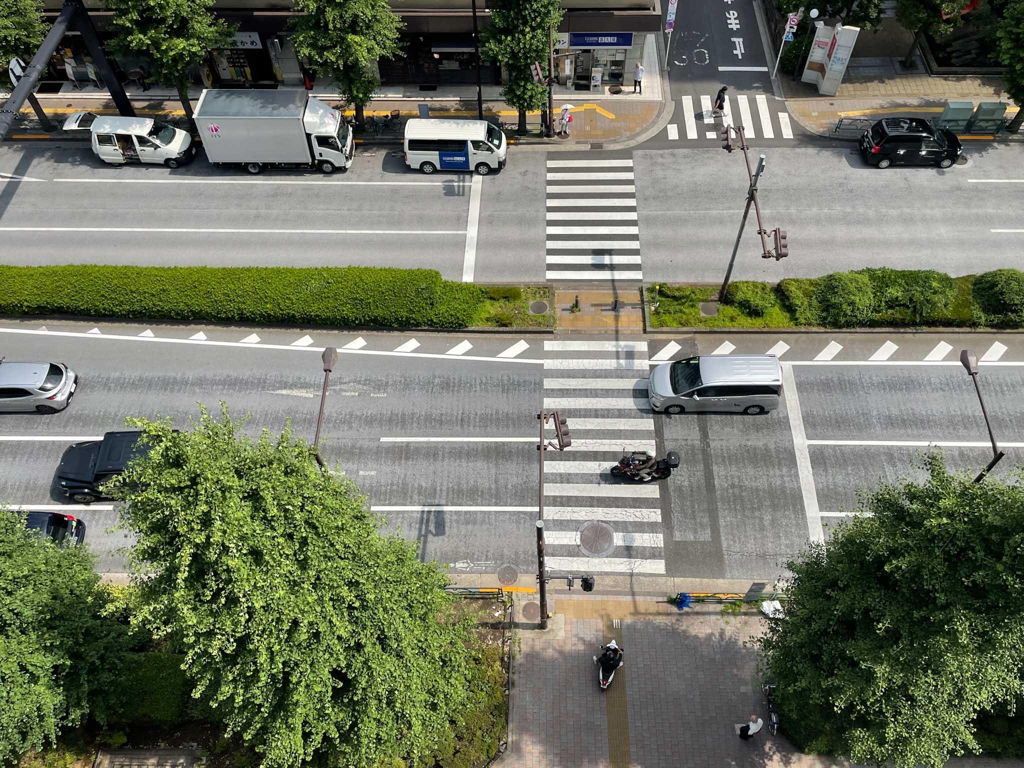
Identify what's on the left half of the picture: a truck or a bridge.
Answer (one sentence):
There is a truck on the left half of the picture.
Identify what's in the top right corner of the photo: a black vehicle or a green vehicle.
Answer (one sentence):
The one visible in the top right corner of the photo is a black vehicle.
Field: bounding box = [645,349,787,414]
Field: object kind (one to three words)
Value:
car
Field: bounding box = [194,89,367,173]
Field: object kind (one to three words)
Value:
truck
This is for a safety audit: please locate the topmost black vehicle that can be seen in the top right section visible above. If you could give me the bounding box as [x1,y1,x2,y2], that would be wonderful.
[863,116,969,168]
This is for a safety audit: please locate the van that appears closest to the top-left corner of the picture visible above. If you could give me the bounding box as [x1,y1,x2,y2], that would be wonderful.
[64,109,198,167]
